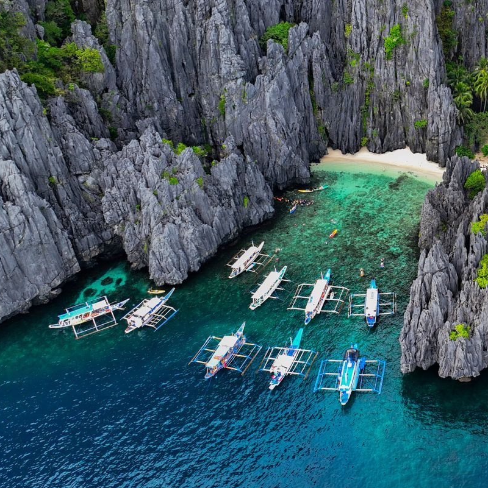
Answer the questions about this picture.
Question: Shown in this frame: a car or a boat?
boat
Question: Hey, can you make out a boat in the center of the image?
Yes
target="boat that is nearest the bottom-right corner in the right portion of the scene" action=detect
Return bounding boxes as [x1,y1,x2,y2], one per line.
[313,342,386,406]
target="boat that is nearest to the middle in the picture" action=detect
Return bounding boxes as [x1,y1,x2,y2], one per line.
[226,241,275,280]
